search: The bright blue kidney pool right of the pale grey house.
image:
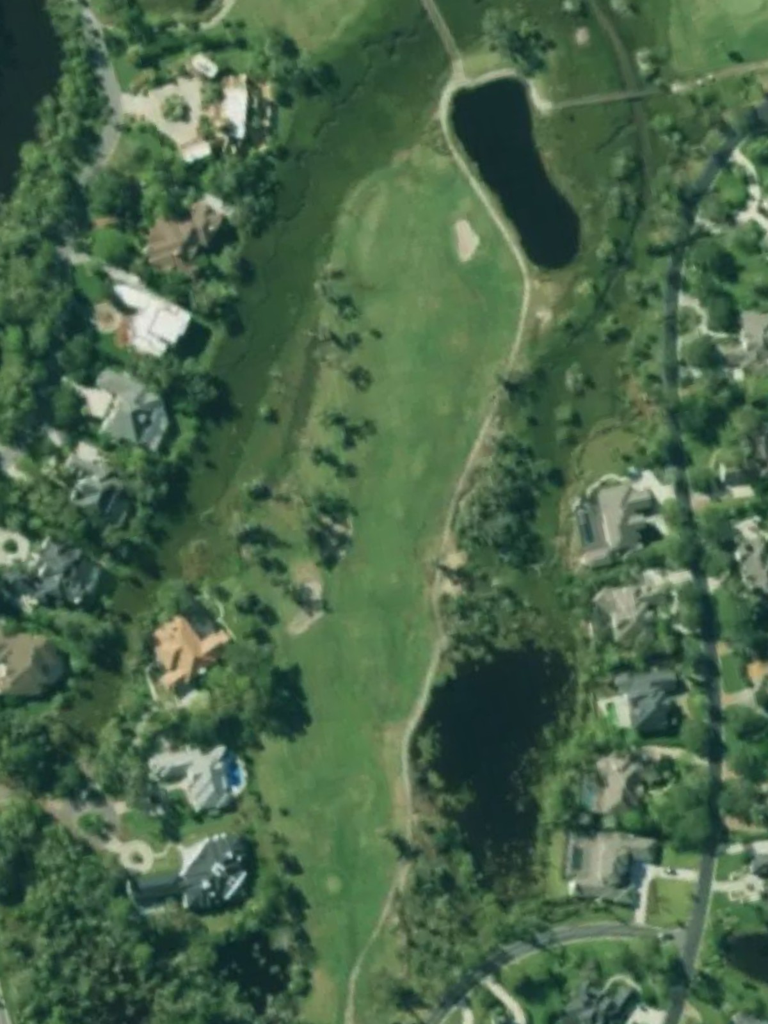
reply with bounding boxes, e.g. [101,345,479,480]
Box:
[227,755,243,786]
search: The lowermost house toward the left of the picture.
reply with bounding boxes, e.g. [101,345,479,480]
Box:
[132,830,254,913]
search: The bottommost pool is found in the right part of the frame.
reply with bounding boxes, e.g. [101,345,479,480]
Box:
[571,847,583,869]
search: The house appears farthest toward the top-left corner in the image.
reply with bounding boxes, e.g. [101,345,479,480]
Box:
[188,49,221,79]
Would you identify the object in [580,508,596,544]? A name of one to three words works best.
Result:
swimming pool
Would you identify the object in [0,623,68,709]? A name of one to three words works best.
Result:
house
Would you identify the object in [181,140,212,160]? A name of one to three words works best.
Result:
building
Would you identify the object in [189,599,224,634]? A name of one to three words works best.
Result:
swimming pool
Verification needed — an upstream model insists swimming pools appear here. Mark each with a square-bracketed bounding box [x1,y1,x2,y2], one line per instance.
[189,599,224,634]
[571,847,583,869]
[606,702,620,729]
[227,755,243,786]
[580,508,596,544]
